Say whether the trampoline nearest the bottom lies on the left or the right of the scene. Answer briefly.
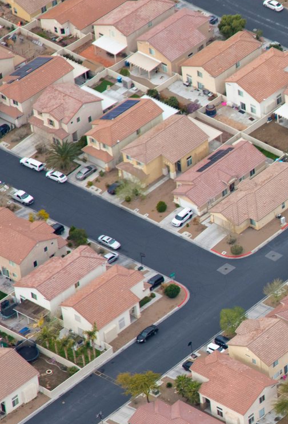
left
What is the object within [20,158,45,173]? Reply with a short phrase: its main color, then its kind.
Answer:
white vehicle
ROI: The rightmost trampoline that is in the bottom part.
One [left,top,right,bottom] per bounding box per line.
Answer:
[16,336,38,357]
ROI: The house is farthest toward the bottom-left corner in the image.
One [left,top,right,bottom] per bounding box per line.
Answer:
[0,353,38,418]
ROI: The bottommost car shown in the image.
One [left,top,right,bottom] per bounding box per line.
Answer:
[178,360,195,373]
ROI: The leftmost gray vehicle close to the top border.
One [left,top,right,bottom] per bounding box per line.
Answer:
[204,15,223,27]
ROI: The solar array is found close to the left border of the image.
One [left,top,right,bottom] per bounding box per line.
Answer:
[10,58,45,79]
